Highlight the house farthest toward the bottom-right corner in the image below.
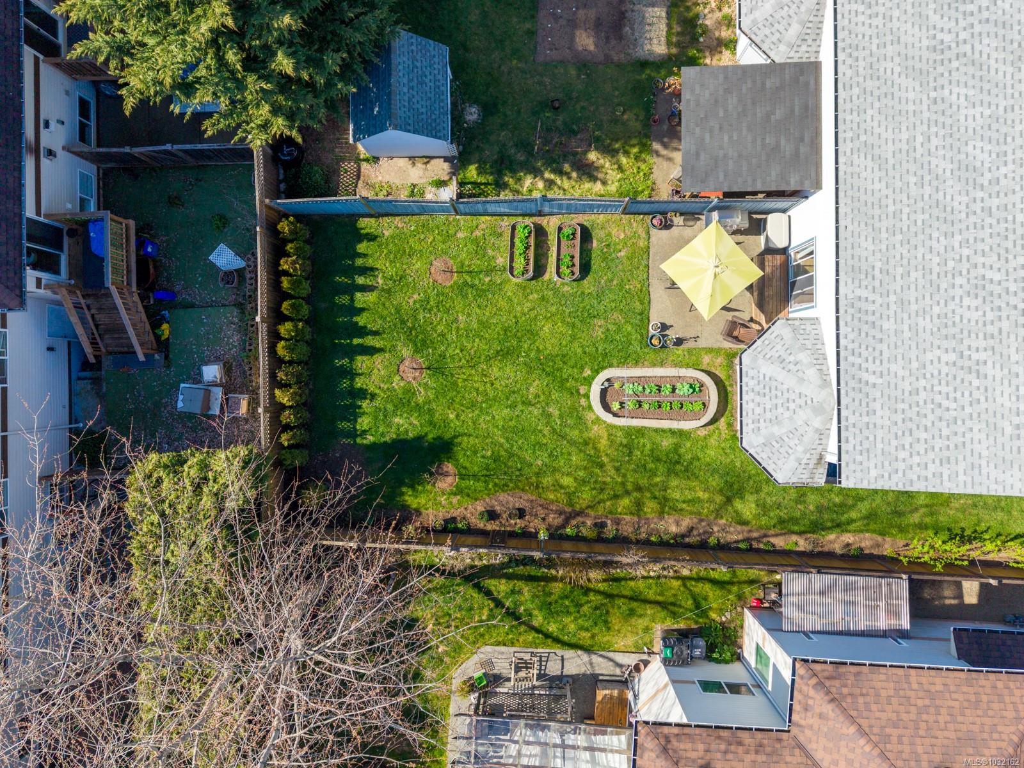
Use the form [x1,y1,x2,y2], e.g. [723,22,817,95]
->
[627,608,1024,768]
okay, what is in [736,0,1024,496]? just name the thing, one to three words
house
